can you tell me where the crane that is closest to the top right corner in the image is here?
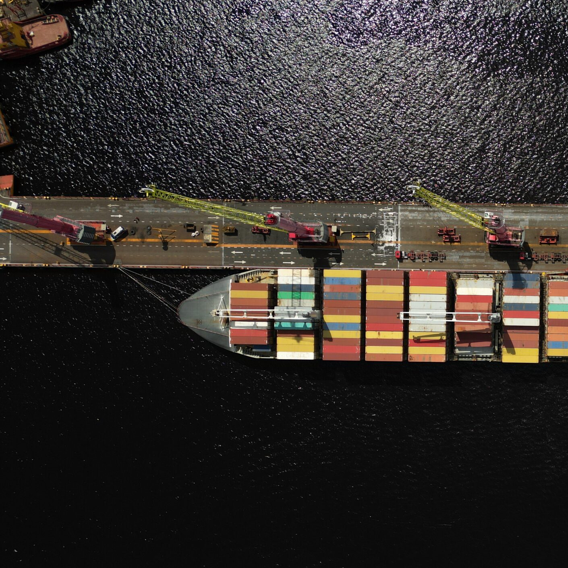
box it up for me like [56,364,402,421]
[407,180,528,252]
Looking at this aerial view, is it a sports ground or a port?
port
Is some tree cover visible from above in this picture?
No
